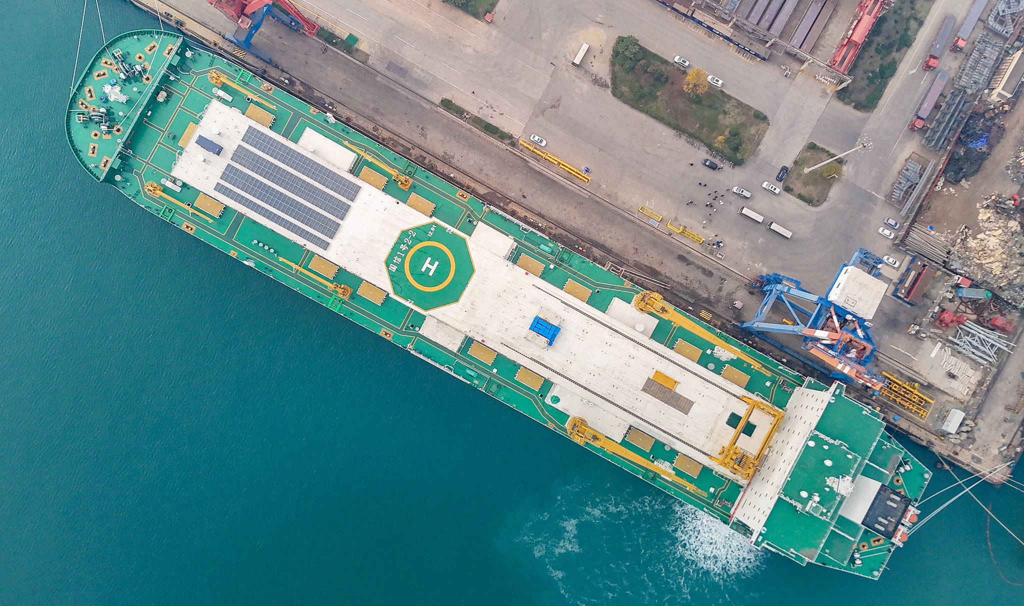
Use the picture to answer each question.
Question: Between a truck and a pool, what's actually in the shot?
truck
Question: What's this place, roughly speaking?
port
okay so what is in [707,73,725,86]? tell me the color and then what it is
white vehicle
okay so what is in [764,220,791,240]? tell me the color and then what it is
white vehicle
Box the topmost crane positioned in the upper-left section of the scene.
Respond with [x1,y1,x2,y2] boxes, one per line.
[204,0,321,64]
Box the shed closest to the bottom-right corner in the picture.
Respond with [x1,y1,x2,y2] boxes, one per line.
[937,407,965,434]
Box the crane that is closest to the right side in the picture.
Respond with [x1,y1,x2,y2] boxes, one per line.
[829,0,900,75]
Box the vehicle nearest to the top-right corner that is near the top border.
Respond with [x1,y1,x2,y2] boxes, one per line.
[953,0,988,50]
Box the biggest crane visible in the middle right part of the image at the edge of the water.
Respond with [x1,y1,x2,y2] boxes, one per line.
[732,245,890,390]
